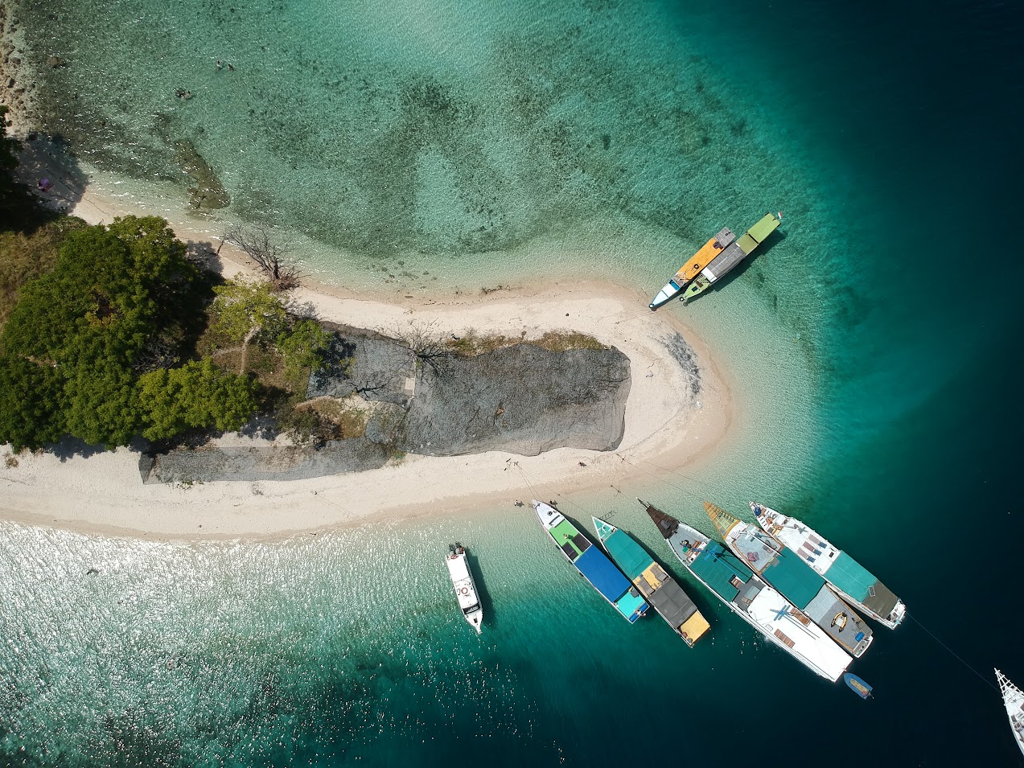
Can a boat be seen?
Yes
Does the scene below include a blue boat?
Yes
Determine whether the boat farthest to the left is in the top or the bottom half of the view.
bottom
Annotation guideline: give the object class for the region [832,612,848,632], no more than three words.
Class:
boat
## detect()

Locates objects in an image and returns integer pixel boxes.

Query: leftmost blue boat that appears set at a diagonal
[532,500,650,624]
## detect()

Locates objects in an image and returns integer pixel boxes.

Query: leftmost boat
[446,538,483,633]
